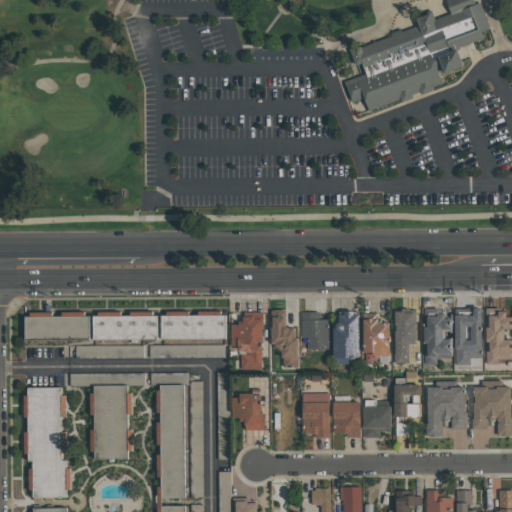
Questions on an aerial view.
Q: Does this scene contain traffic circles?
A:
No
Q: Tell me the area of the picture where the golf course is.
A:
top left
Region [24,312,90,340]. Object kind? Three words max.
building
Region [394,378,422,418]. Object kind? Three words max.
house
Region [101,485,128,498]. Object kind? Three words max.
swimming pool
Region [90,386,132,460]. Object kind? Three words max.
building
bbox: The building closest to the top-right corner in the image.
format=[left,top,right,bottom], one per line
[342,0,490,110]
